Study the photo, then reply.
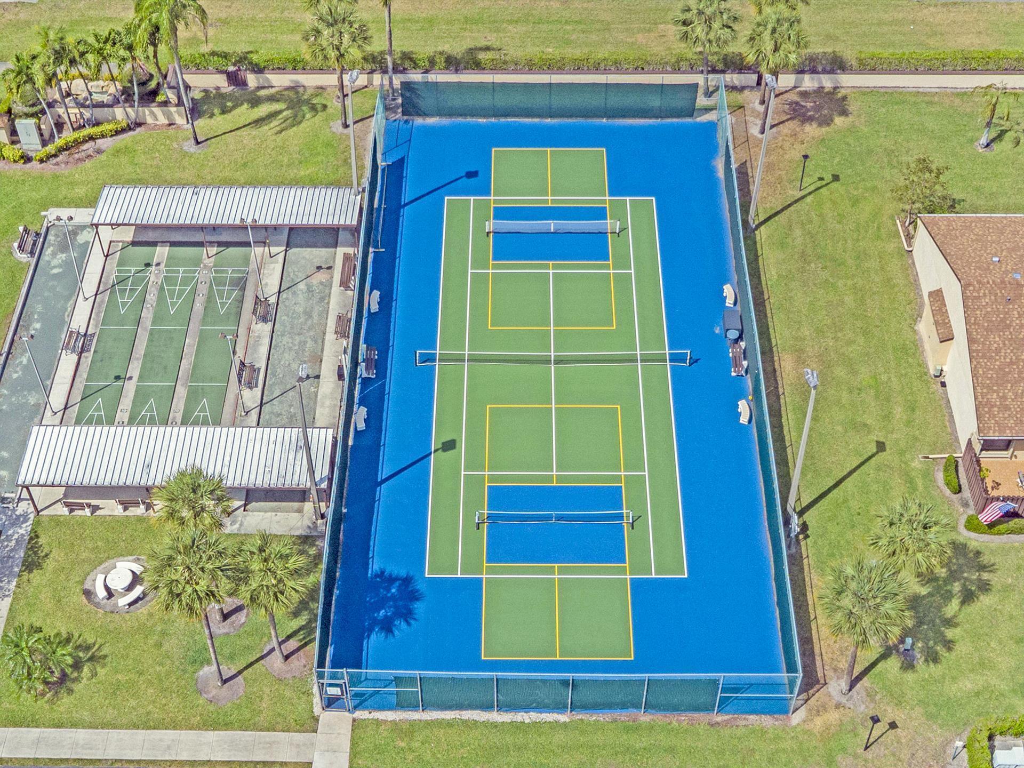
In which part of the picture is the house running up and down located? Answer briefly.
right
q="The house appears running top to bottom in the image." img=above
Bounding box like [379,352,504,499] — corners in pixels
[913,213,1024,460]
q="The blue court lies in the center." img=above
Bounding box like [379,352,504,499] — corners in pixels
[329,119,790,715]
